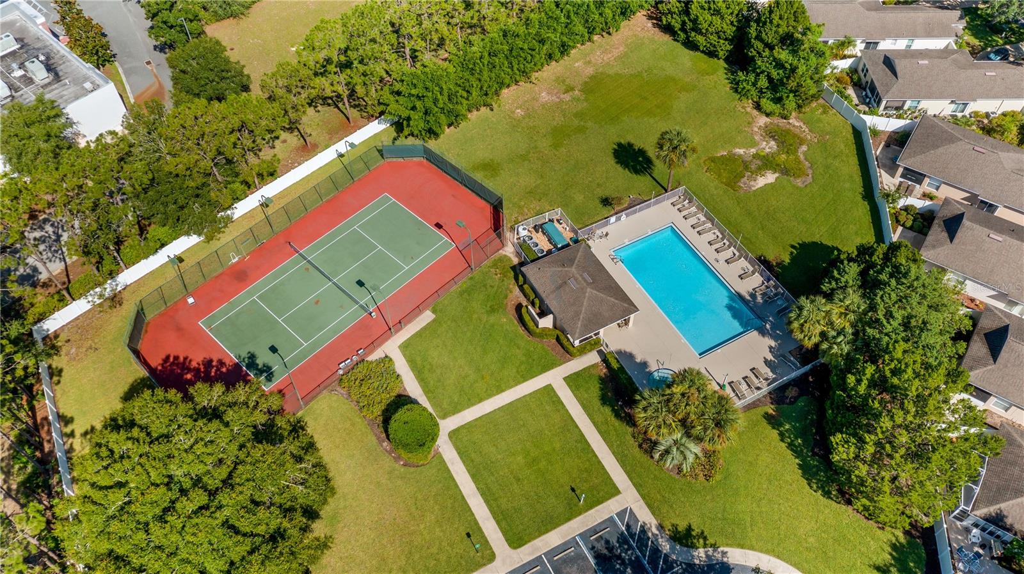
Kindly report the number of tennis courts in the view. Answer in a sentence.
In total, there is 1 tennis court in the scene.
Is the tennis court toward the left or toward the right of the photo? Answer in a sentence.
The tennis court appears in the left half of the scene.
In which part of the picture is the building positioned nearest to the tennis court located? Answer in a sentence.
The building positioned nearest to the tennis court is in the center part of the image.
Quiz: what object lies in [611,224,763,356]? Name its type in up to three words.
swimming pool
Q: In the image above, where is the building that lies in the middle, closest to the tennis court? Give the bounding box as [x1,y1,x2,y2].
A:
[521,241,640,347]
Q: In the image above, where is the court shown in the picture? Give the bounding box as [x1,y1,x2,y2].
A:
[133,158,507,443]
